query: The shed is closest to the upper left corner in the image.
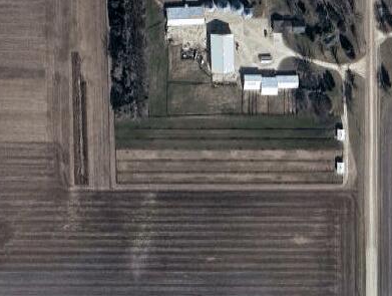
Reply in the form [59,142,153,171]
[166,7,204,26]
